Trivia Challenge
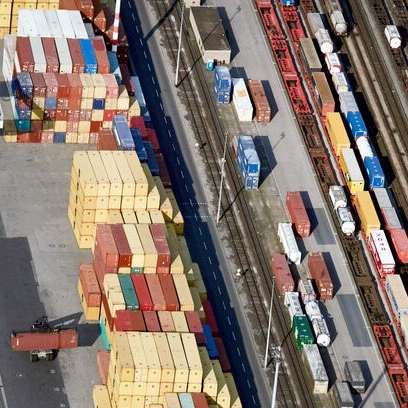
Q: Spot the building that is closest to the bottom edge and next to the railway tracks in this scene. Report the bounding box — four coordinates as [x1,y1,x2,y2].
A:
[190,6,233,65]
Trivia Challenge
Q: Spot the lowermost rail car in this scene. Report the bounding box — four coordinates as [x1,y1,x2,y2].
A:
[390,365,408,408]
